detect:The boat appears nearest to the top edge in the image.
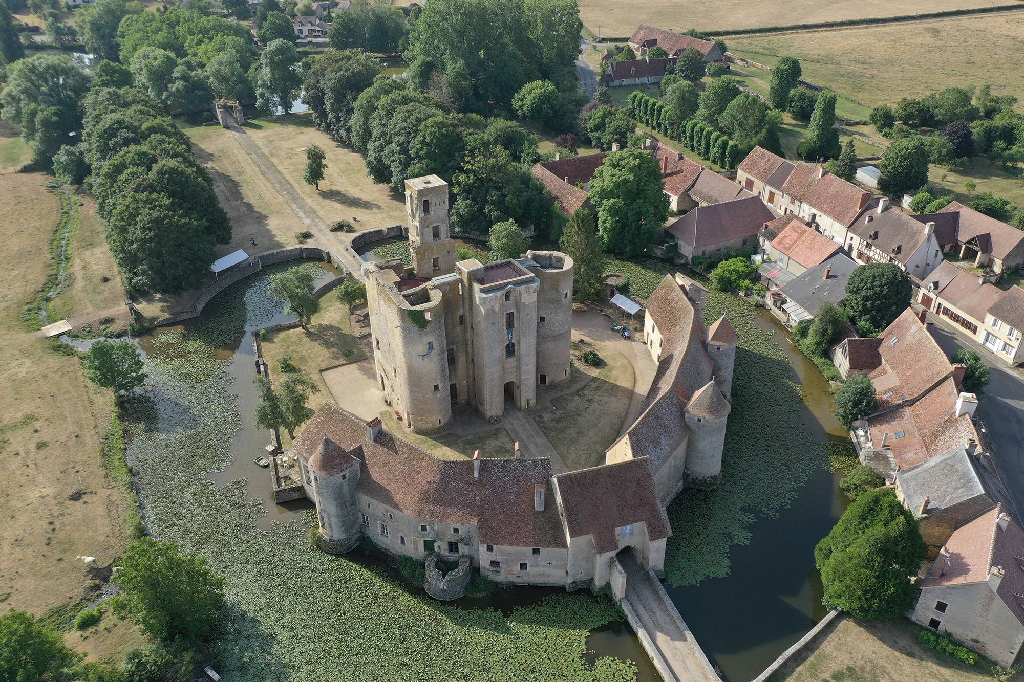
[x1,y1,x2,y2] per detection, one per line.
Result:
[252,453,268,468]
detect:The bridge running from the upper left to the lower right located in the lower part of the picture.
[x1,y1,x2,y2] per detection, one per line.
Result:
[611,543,727,682]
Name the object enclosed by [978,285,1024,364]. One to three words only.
house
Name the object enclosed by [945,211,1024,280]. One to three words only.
barn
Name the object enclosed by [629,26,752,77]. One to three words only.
barn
